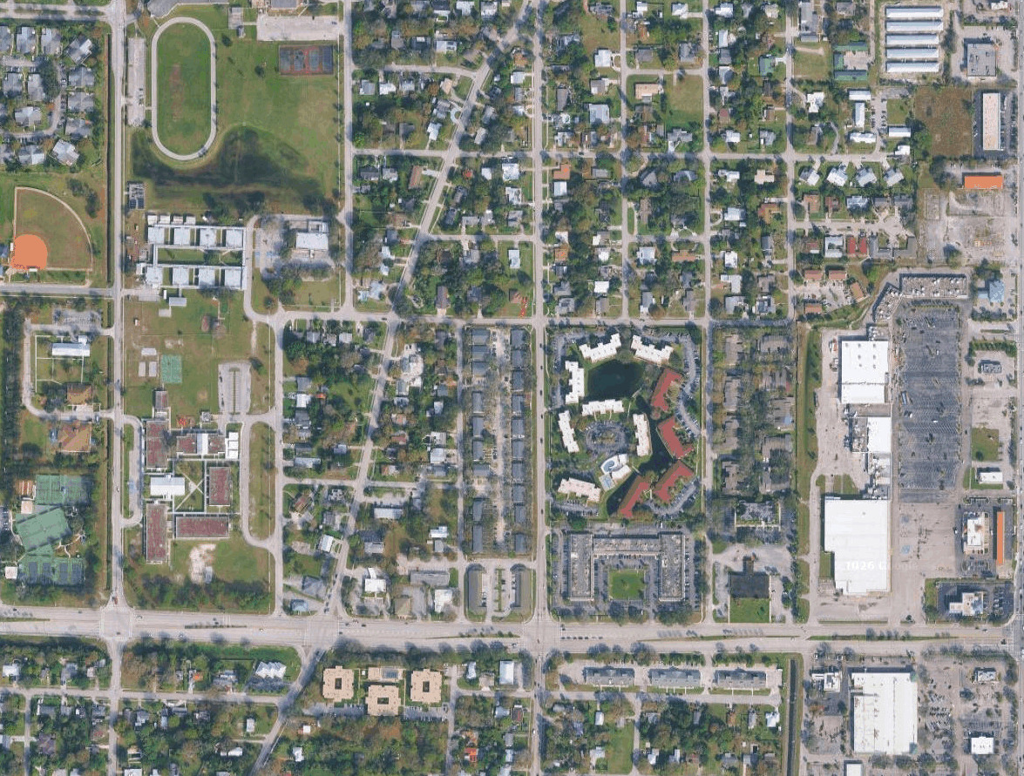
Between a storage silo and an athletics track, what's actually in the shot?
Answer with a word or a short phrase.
athletics track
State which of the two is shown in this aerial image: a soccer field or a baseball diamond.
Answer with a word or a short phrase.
baseball diamond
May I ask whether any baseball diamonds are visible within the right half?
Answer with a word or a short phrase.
No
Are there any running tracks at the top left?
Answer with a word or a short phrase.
Yes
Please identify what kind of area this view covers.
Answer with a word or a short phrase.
residential area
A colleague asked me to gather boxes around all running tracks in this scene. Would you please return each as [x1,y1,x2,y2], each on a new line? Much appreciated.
[152,17,216,160]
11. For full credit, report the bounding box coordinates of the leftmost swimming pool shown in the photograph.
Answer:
[381,668,405,681]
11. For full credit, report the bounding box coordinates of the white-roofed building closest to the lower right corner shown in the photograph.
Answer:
[970,737,994,754]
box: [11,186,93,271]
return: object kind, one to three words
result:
baseball field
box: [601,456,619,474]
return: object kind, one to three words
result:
swimming pool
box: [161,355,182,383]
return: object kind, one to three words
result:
basketball court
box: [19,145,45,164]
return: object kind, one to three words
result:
house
